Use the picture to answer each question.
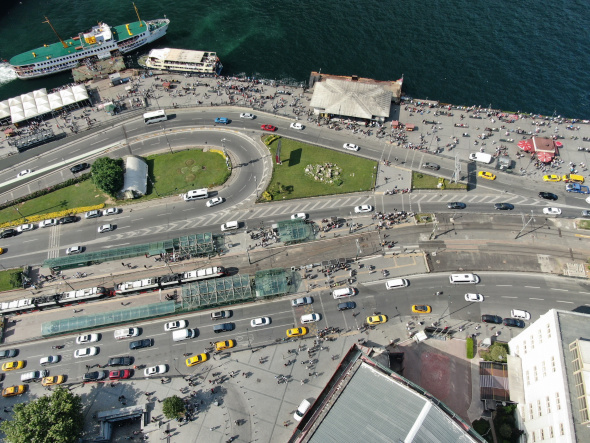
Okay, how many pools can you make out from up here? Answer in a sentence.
There are no pools in the image.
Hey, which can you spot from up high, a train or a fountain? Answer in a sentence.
I can see a train in this picture.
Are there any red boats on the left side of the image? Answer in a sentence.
No, on the left side of the image there is no red boat.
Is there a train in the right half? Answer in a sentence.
No, looking in the right half, there is no train.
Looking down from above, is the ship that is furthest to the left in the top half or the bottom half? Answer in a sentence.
The top half of the photo is where the ship that is furthest to the left is.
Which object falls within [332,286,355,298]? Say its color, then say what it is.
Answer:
white vehicle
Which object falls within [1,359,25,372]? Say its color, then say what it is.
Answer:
yellow vehicle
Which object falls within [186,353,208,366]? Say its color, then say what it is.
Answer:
yellow vehicle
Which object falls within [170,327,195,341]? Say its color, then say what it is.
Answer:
white vehicle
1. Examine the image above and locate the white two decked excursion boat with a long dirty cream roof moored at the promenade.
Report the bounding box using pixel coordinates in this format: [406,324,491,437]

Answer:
[134,47,222,75]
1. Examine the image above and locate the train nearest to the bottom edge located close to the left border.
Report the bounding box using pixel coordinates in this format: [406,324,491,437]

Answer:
[0,285,110,317]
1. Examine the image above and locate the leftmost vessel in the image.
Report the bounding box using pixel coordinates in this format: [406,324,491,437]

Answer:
[0,3,173,76]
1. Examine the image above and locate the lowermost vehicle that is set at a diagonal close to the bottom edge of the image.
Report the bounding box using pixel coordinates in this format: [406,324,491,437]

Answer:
[288,393,311,423]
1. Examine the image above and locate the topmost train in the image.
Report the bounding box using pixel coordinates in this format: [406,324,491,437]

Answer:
[109,266,224,297]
